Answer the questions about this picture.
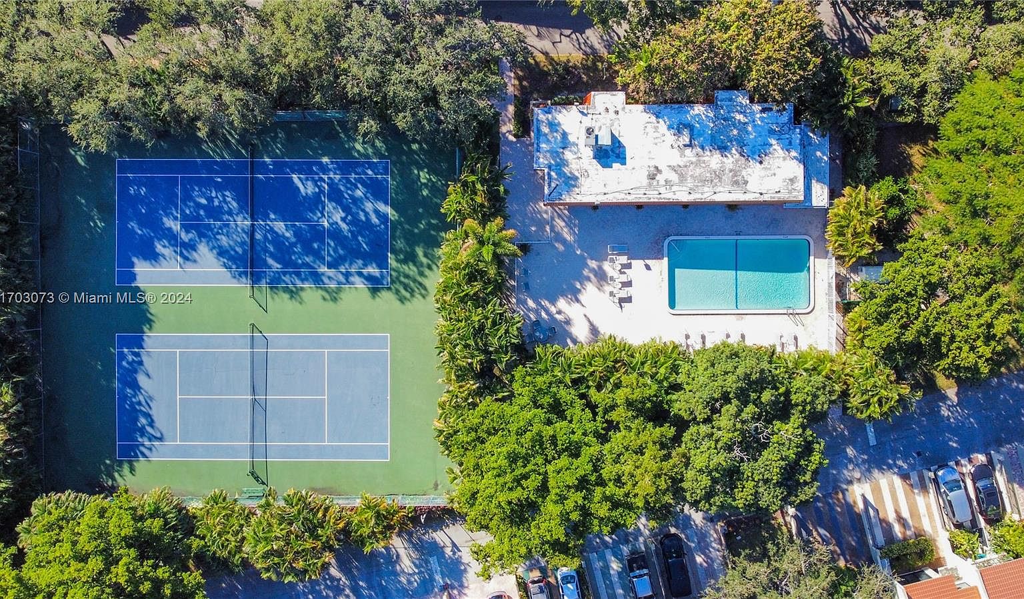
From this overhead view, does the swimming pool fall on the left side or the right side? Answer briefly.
right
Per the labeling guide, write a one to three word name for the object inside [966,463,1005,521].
car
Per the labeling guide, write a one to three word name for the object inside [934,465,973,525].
car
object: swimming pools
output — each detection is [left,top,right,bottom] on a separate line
[664,235,815,315]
